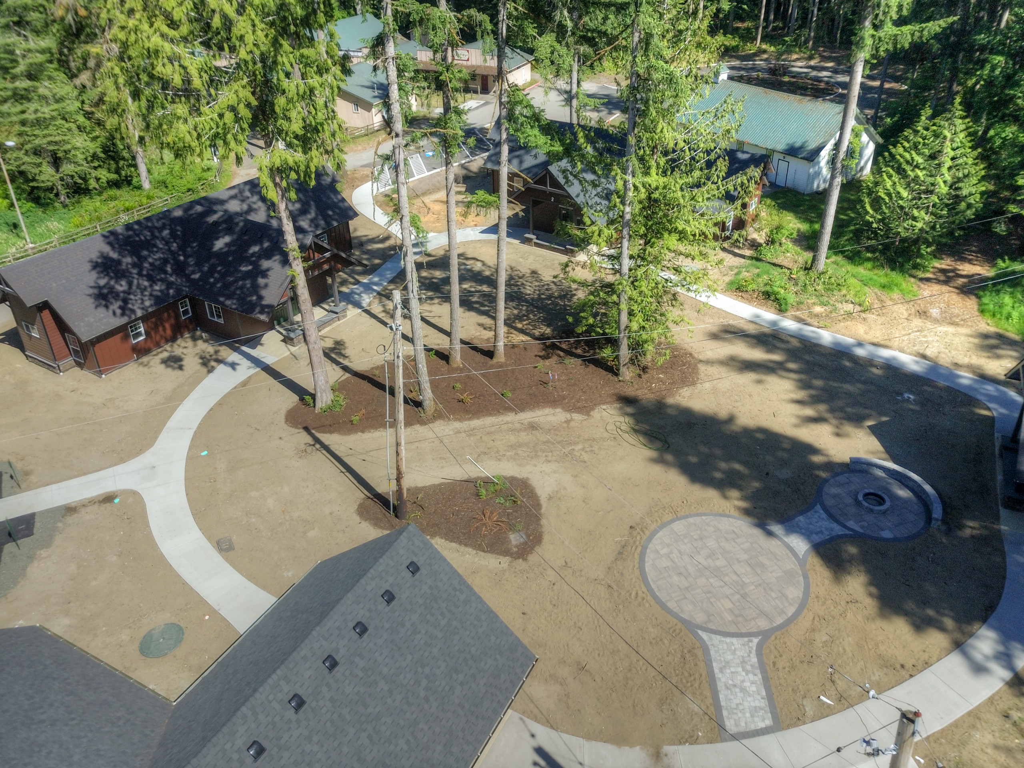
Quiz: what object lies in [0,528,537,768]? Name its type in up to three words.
building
